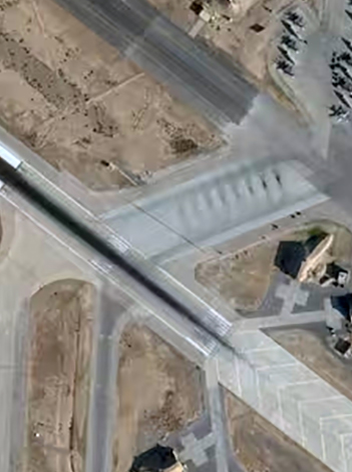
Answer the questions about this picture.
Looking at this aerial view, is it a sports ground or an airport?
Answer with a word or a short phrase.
airport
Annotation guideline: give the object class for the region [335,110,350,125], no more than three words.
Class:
airplane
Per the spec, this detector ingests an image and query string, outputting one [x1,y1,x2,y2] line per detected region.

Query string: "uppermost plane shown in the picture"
[287,12,302,26]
